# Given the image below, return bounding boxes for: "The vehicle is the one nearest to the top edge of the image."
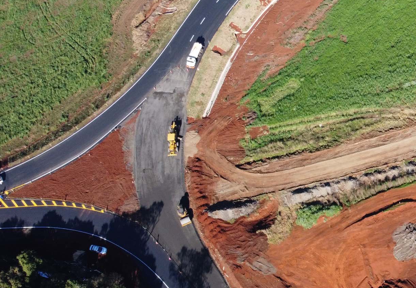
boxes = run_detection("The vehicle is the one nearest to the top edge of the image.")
[184,41,204,72]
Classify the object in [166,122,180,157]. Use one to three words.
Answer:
work vehicle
